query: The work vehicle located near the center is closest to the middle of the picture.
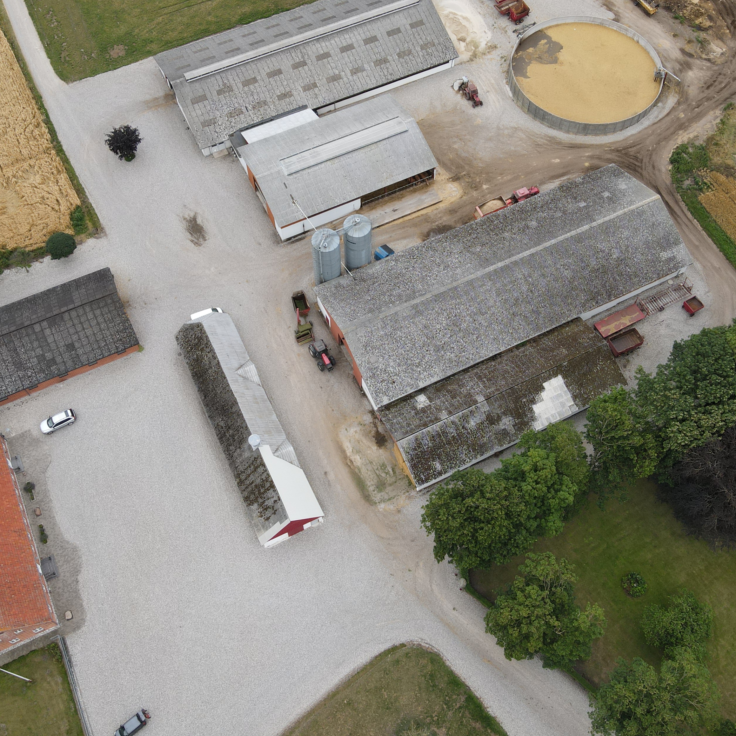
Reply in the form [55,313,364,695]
[308,339,341,379]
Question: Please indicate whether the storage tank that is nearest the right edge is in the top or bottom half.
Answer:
top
